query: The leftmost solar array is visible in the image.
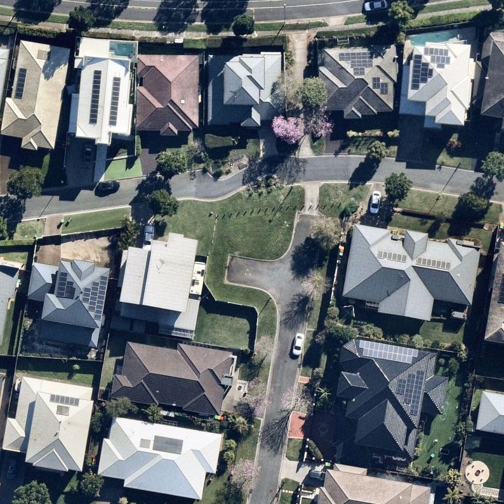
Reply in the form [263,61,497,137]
[14,68,29,99]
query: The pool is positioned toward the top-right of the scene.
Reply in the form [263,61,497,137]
[407,24,471,46]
